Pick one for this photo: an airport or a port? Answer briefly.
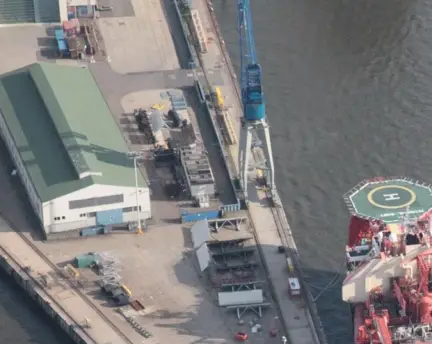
port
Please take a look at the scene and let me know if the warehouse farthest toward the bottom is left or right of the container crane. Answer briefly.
to the left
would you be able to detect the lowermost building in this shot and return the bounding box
[0,54,152,239]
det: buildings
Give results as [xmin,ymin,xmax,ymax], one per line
[0,54,152,239]
[0,0,71,26]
